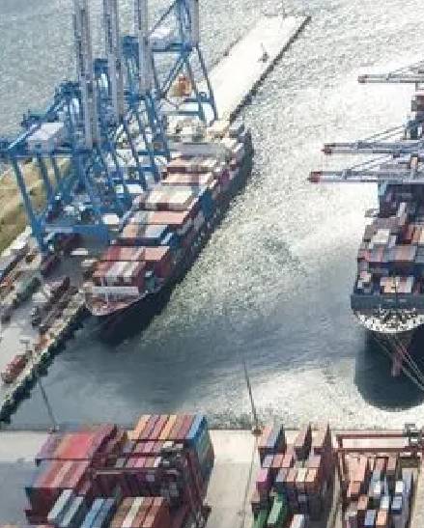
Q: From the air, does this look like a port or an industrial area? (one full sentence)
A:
The area seen from above is a port.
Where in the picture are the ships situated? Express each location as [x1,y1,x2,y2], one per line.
[79,124,262,337]
[346,272,424,375]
